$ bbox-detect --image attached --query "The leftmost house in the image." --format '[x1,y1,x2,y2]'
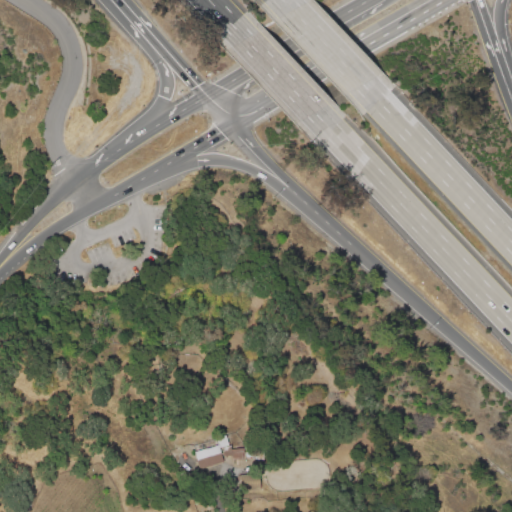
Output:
[195,446,224,468]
